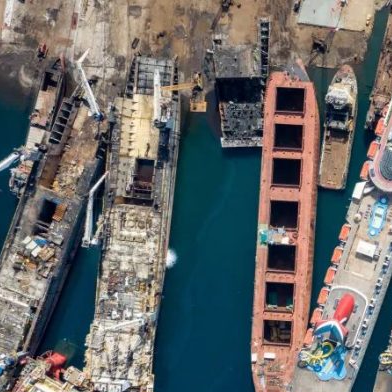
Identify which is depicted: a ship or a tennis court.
ship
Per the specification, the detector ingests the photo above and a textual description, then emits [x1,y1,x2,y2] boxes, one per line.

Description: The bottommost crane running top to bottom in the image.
[81,170,113,248]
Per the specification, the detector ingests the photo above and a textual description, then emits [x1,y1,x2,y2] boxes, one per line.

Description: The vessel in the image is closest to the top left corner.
[12,51,69,196]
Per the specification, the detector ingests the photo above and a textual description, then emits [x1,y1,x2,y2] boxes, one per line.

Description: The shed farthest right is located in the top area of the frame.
[339,0,376,33]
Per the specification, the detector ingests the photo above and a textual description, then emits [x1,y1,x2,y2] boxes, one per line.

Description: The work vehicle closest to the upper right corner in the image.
[302,39,324,68]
